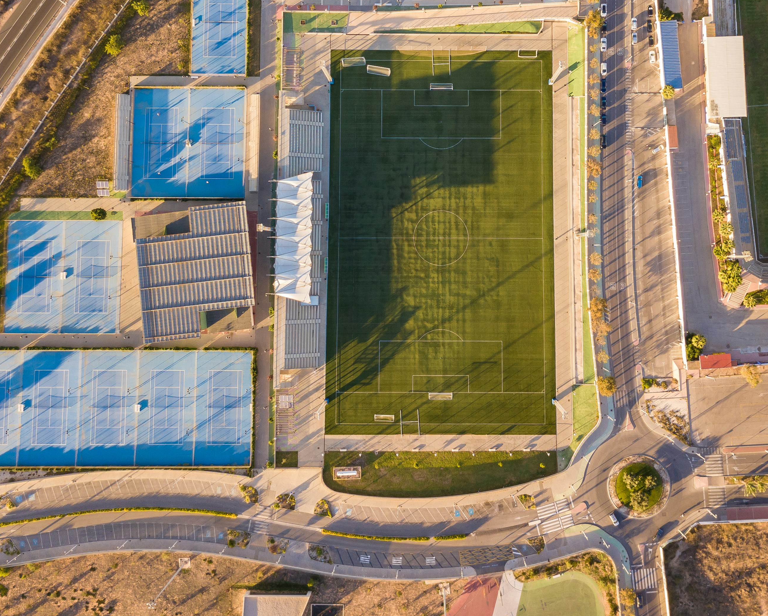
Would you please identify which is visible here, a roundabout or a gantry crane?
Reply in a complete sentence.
Of the two, only a roundabout appears.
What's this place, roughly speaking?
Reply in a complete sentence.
This looks like a sports ground.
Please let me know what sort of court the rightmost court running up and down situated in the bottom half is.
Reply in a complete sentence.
It looks like the rightmost court running up and down situated in the bottom half is a tennis court.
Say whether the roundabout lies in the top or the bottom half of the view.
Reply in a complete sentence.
The roundabout is in the bottom half of the image.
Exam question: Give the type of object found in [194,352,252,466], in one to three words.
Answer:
tennis court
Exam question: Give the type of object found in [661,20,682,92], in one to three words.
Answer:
shed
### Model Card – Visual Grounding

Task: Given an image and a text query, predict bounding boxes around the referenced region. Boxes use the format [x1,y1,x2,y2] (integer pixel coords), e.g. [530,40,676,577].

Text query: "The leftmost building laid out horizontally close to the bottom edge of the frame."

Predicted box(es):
[244,587,312,616]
